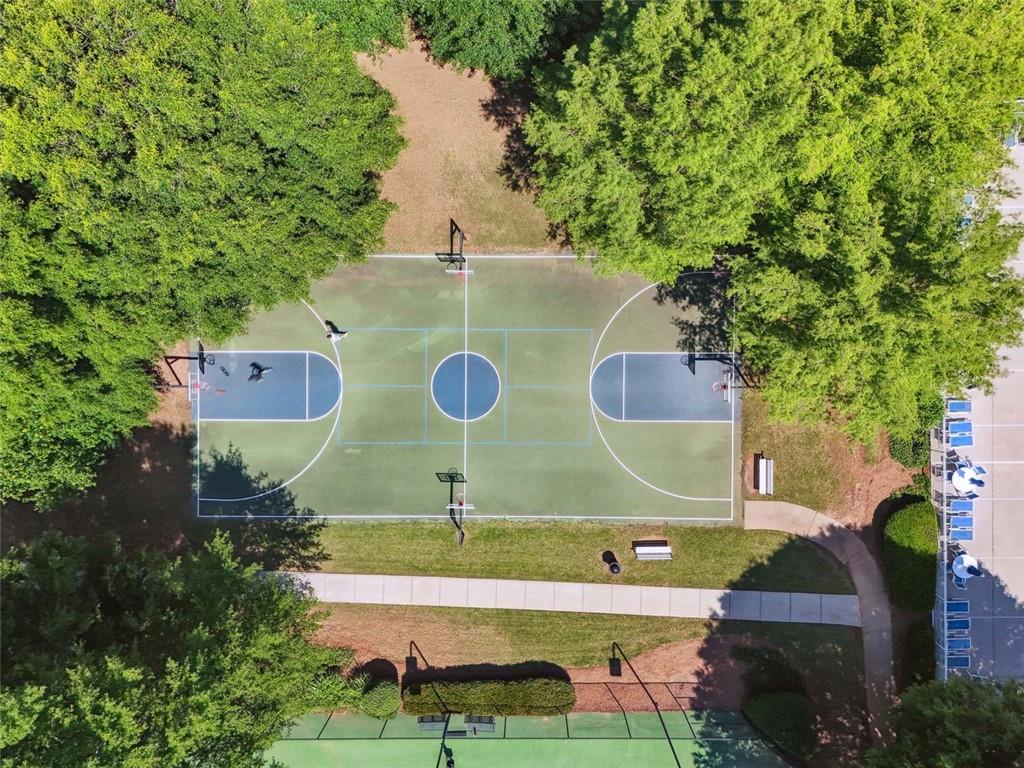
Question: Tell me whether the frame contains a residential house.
No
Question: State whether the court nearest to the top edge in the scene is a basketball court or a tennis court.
basketball court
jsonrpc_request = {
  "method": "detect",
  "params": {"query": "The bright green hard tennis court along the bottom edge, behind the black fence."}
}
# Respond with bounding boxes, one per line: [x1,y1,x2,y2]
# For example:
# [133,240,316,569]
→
[186,713,789,768]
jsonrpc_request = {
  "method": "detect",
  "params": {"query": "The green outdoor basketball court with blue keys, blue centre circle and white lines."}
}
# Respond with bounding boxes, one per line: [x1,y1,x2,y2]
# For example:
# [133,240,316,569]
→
[190,250,744,527]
